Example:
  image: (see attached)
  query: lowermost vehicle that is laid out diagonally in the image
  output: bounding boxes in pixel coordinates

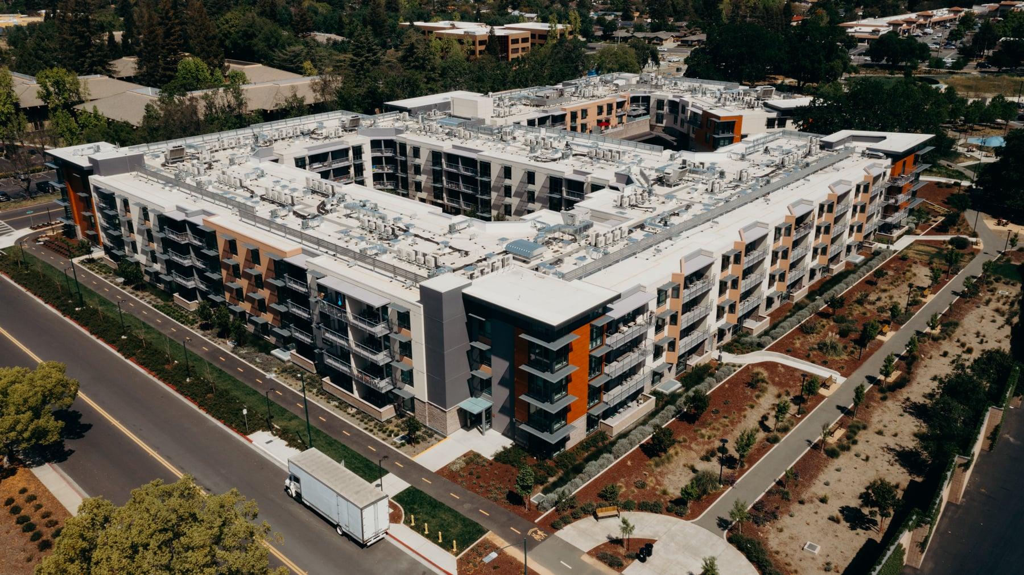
[288,447,391,544]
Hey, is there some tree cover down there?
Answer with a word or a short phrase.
Yes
